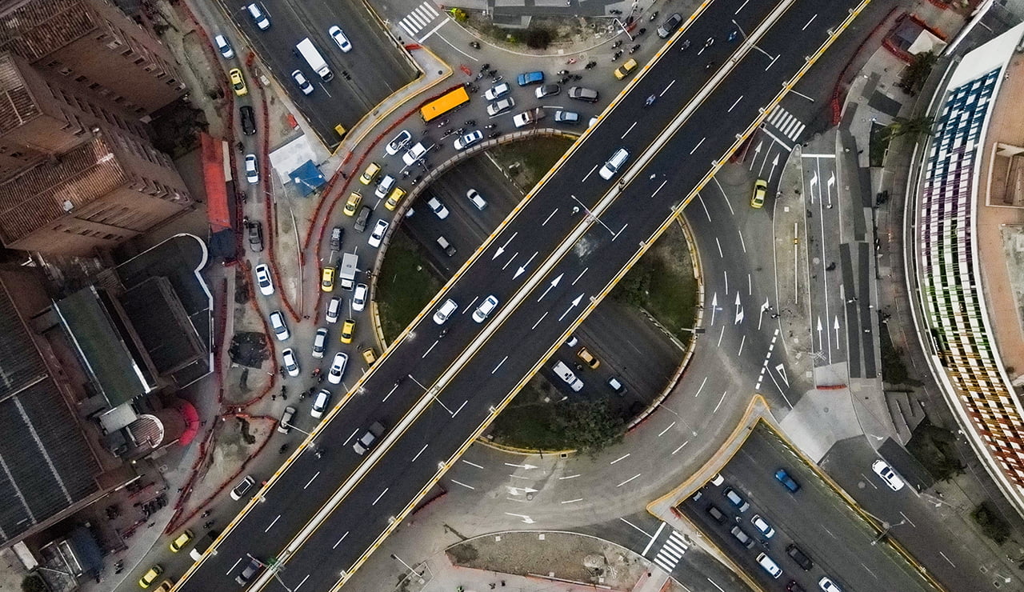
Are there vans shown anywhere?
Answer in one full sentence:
Yes, looking at the shot, I can spot a van.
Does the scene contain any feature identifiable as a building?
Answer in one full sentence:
Yes, a building is visible in the scene.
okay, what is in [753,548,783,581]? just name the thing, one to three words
van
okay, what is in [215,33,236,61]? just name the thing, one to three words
car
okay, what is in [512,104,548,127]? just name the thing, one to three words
truck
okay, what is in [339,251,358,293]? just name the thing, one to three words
vehicle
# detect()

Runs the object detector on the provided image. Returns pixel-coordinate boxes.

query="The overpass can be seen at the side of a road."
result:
[164,0,871,592]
